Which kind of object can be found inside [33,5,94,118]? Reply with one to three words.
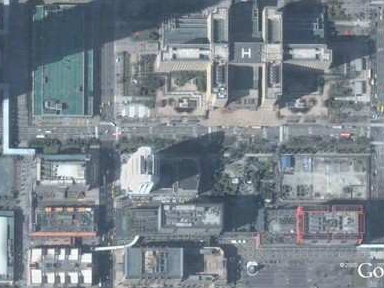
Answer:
building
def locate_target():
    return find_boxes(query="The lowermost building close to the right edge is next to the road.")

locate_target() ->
[295,205,365,248]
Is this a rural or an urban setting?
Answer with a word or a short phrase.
urban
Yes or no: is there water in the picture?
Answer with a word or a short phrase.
No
